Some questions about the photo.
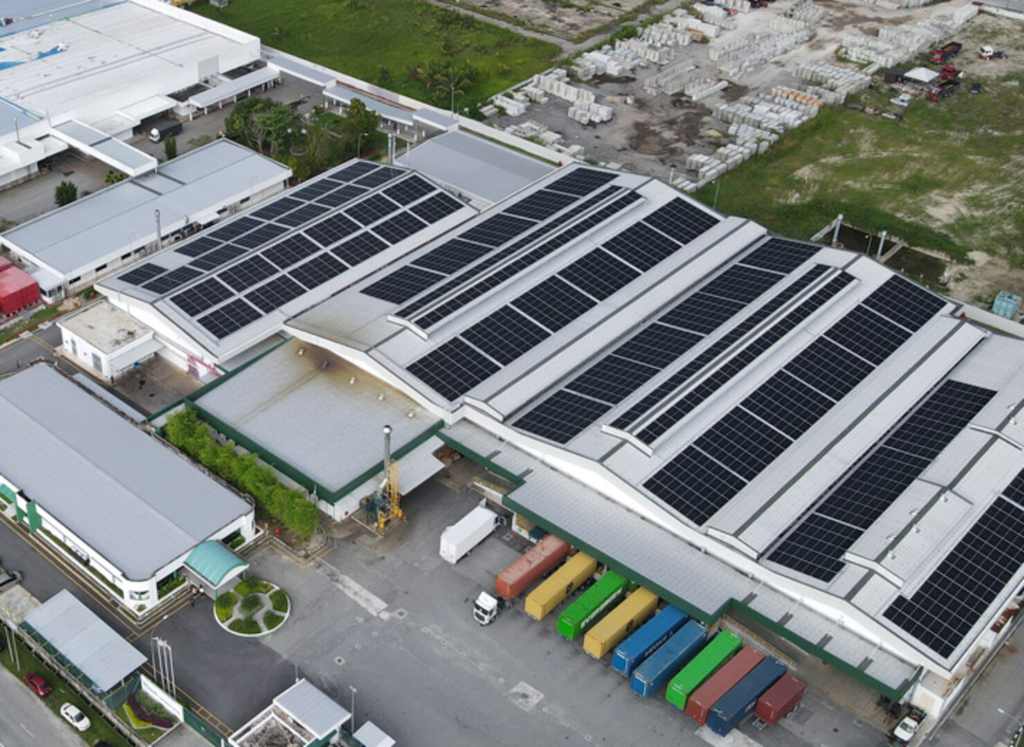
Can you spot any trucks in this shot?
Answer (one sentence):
Yes, the frame does contain a truck.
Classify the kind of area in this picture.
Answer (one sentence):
This looks like an industrial area.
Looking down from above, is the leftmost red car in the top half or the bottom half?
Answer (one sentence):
You can find the leftmost red car in the bottom half.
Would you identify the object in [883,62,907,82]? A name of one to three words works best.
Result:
shed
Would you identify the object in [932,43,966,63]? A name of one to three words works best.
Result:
vehicle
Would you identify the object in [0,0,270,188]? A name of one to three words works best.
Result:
building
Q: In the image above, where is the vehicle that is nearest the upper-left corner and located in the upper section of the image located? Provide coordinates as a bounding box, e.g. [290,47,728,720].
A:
[147,115,185,141]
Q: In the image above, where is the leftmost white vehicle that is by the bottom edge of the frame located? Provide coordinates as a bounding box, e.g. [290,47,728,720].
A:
[61,702,93,734]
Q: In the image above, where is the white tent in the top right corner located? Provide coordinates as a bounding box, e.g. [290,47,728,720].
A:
[901,65,939,90]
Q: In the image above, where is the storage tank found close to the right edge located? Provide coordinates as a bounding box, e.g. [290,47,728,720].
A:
[993,286,1024,319]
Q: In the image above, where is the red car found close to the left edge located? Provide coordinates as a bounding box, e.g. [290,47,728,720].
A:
[24,671,55,700]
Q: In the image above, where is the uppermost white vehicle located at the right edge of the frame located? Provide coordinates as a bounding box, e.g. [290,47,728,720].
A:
[982,44,1007,62]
